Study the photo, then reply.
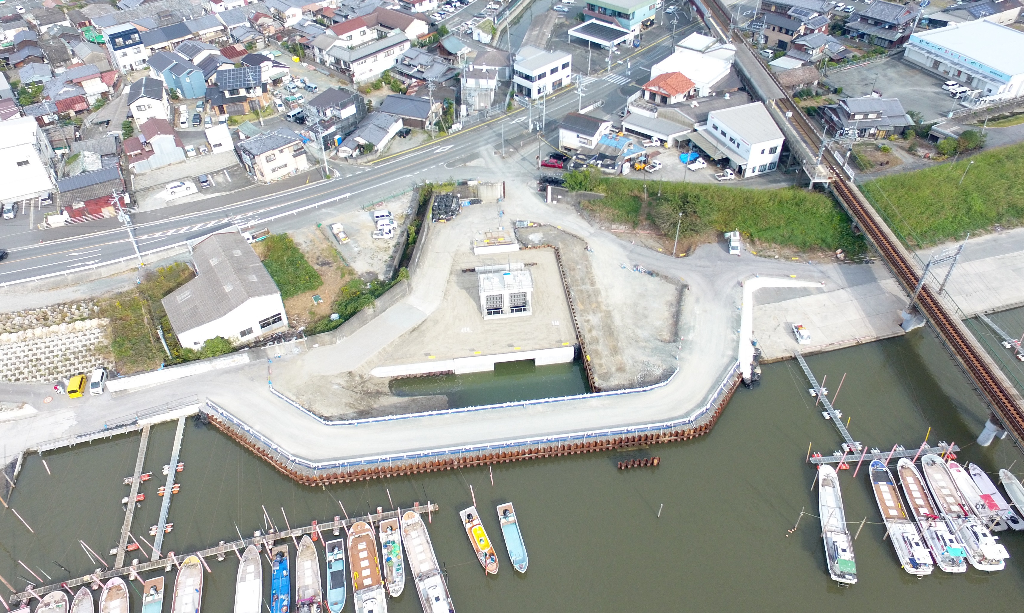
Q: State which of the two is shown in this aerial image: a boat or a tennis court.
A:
boat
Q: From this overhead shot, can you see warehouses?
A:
Yes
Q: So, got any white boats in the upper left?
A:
No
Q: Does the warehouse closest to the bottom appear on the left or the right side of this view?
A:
left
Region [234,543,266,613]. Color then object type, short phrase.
white boat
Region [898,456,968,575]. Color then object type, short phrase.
white boat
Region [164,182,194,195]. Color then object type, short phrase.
white vehicle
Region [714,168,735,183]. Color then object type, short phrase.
white vehicle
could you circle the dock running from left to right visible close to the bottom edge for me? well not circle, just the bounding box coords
[8,501,439,607]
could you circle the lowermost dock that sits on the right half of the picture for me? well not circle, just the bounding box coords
[808,440,964,467]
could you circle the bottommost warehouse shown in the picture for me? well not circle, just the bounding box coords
[161,232,289,349]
